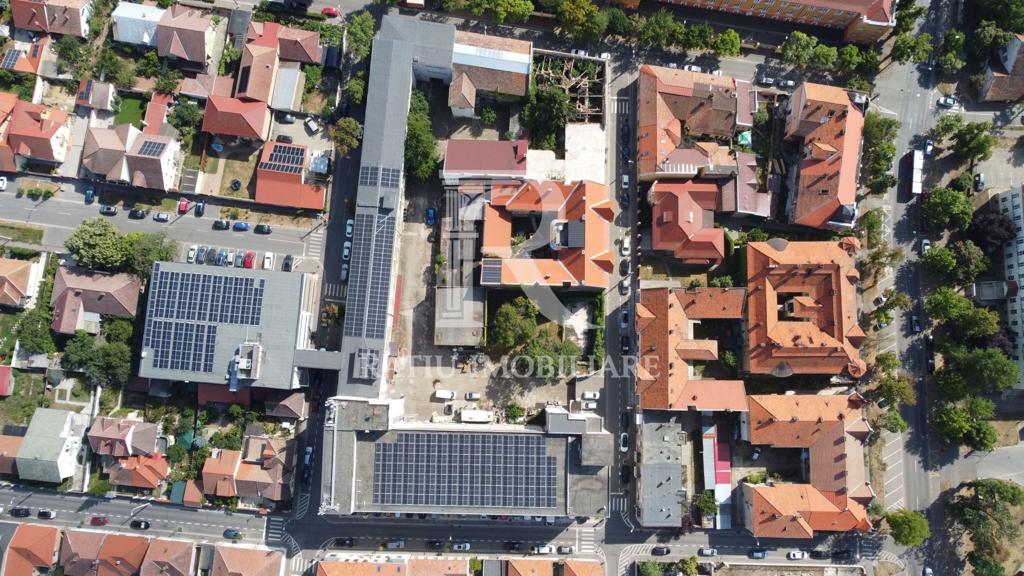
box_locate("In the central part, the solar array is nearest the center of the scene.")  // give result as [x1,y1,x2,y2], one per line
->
[483,260,502,282]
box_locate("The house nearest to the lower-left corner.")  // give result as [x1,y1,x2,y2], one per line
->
[4,522,68,576]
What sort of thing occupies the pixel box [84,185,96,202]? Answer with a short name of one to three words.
vehicle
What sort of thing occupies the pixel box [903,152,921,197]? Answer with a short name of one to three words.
vehicle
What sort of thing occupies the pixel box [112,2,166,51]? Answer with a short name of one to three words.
house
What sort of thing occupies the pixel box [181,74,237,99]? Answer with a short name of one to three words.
building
